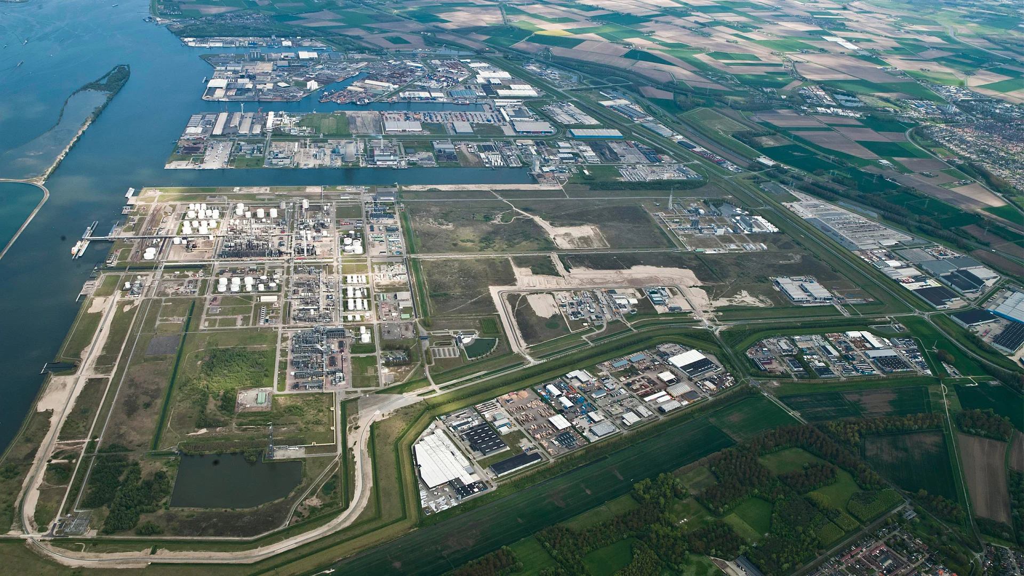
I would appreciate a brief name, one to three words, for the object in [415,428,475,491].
building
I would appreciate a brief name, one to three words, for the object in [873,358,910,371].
building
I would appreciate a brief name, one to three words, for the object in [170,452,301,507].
pond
